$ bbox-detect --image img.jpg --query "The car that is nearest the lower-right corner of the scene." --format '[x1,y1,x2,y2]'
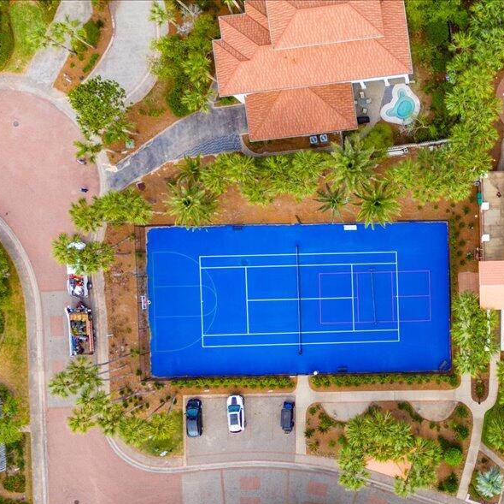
[276,401,295,437]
